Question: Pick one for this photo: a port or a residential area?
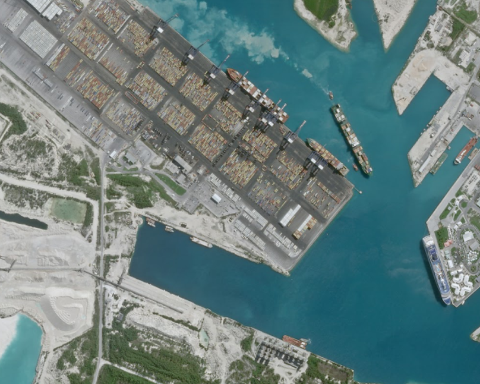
port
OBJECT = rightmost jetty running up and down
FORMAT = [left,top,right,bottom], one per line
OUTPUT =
[427,102,480,307]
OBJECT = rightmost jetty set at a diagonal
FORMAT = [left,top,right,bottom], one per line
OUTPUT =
[410,121,463,188]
